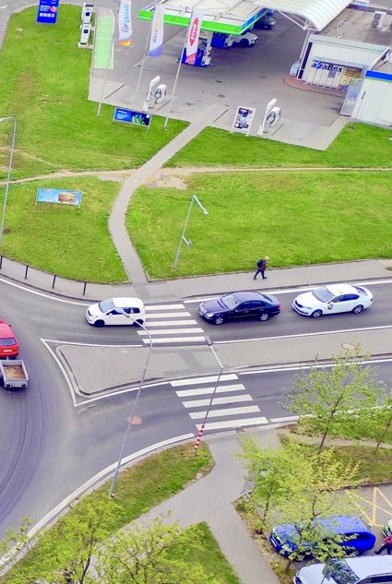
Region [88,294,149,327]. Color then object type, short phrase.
white car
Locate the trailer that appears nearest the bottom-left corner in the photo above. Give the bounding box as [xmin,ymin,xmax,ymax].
[0,357,31,387]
